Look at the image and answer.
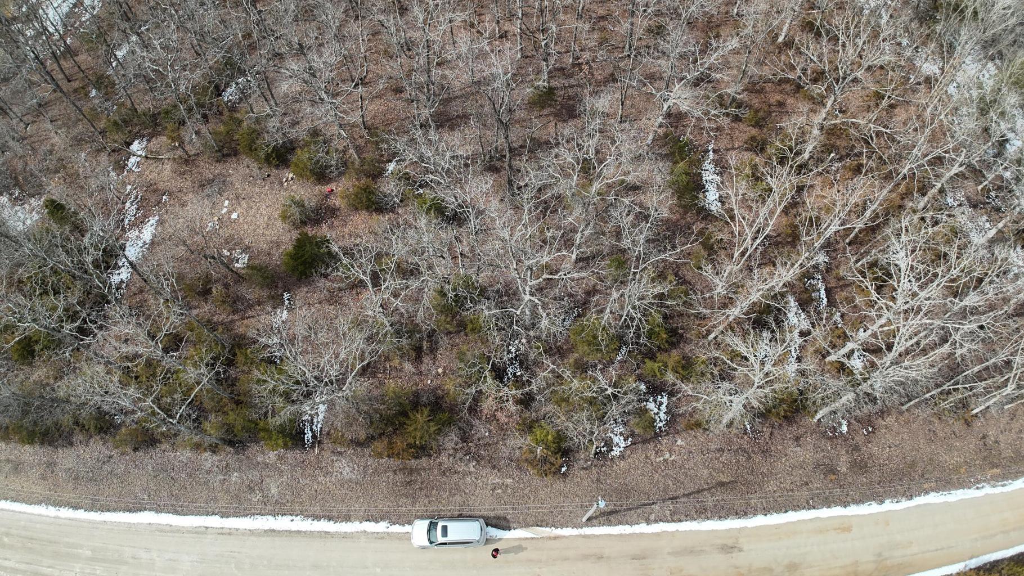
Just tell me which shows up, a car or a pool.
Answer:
car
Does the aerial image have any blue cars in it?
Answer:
No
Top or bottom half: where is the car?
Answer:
bottom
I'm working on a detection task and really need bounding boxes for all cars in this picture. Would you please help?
[411,514,486,552]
